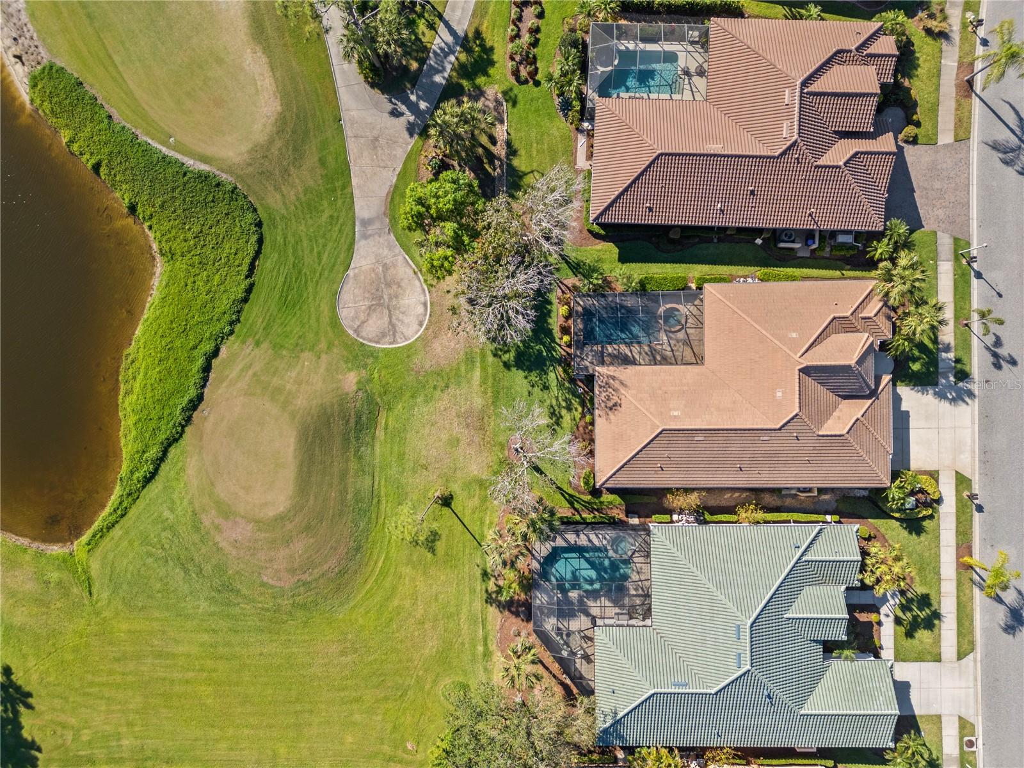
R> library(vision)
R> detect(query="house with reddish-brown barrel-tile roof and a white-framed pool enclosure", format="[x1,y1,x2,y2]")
[589,15,899,232]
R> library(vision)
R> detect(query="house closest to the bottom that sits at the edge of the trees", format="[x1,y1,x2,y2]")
[592,523,903,748]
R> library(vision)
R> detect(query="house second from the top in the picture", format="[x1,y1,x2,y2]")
[593,280,895,490]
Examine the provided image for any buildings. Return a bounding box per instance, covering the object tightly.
[593,280,895,490]
[589,15,899,232]
[592,523,903,748]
